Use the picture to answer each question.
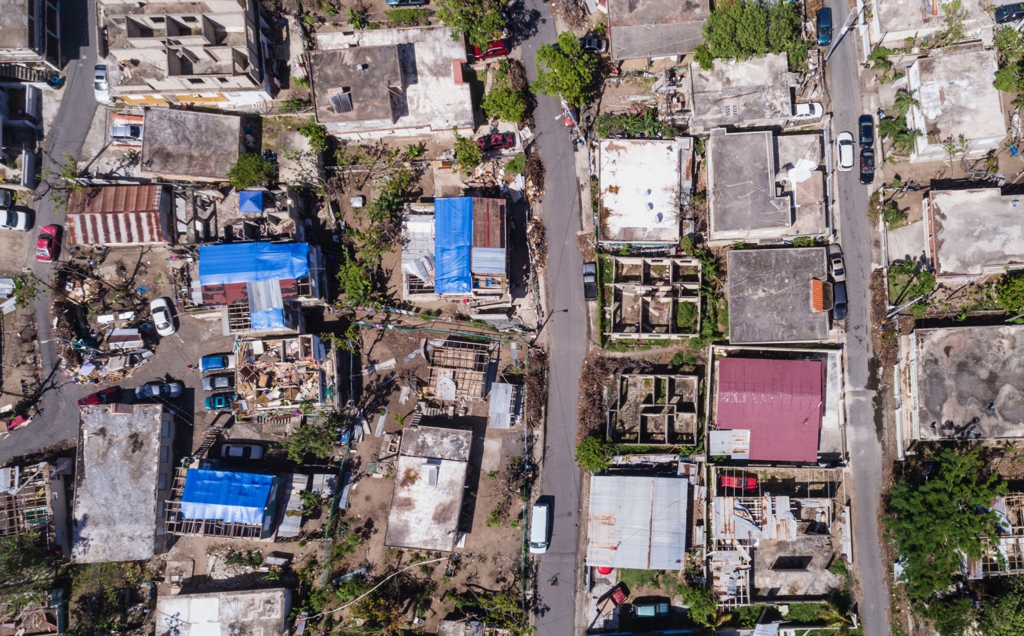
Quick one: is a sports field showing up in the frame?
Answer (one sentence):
No, this view has no sports field in it.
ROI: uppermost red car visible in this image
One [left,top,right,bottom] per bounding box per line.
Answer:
[473,40,509,59]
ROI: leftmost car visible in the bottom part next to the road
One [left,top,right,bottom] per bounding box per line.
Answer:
[78,385,121,407]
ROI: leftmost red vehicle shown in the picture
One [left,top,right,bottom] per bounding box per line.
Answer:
[35,225,62,262]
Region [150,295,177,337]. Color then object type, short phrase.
white car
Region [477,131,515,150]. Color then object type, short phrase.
red car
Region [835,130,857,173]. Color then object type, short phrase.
white car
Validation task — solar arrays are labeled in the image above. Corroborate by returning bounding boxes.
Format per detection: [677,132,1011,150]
[331,93,352,114]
